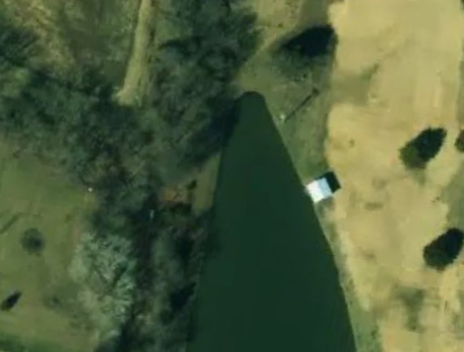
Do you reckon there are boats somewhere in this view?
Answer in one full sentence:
No, I can see no boat in this picture.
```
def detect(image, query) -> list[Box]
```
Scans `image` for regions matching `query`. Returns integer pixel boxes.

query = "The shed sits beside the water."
[307,178,332,202]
